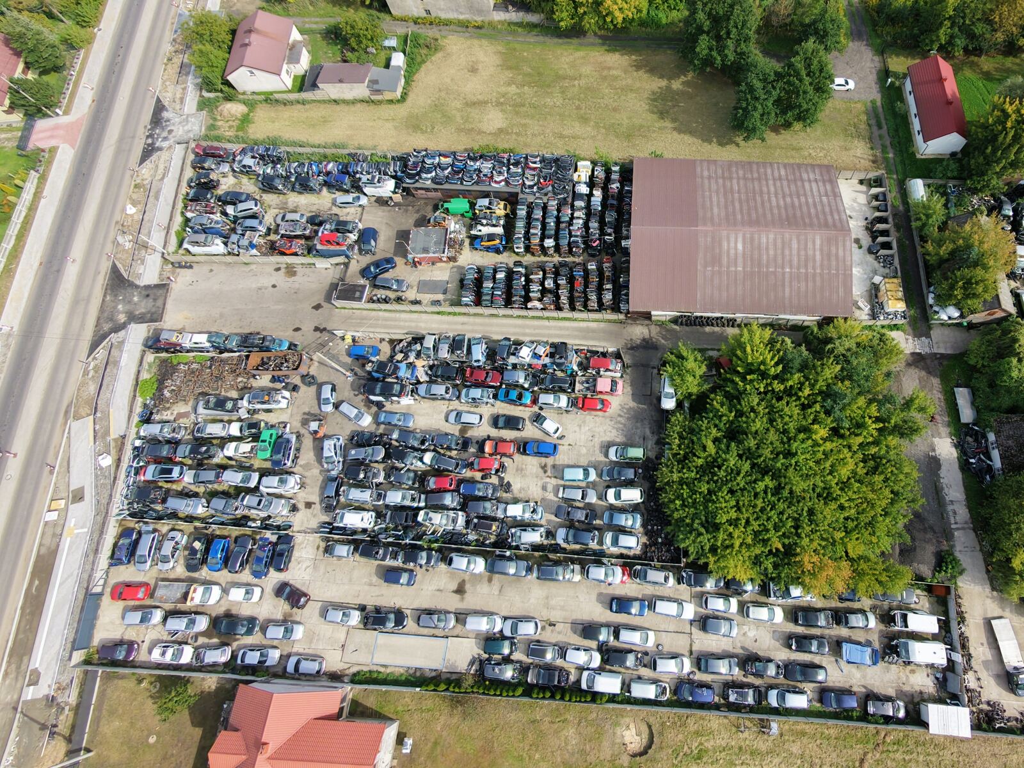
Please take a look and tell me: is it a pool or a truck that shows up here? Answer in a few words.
truck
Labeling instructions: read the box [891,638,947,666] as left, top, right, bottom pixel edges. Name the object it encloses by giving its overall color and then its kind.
white van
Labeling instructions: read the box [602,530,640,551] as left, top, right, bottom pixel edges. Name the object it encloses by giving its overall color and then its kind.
white car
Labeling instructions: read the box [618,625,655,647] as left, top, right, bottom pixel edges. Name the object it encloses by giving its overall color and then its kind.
white vehicle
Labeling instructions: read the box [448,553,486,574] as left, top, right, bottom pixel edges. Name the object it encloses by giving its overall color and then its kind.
white car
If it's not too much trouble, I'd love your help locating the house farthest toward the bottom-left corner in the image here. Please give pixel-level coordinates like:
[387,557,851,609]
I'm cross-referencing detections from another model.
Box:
[197,683,393,768]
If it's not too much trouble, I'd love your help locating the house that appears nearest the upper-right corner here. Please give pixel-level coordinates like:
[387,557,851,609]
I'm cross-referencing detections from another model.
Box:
[902,54,967,153]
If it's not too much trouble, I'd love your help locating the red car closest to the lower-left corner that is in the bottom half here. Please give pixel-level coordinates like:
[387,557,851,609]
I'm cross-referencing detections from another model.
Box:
[111,581,155,602]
